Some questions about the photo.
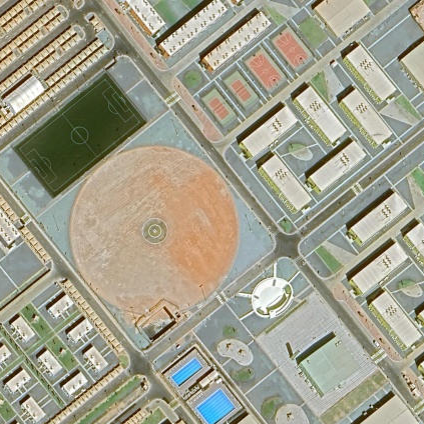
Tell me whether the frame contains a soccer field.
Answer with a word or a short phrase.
Yes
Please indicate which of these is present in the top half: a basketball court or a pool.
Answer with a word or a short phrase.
basketball court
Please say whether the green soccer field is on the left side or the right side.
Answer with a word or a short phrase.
left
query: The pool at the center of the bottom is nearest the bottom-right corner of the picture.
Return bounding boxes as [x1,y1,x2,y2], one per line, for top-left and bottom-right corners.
[189,382,240,424]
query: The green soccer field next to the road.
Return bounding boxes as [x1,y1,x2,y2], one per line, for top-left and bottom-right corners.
[13,72,147,197]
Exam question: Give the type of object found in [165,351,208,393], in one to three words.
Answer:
swimming pool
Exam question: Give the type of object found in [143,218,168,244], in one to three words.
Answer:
helipad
